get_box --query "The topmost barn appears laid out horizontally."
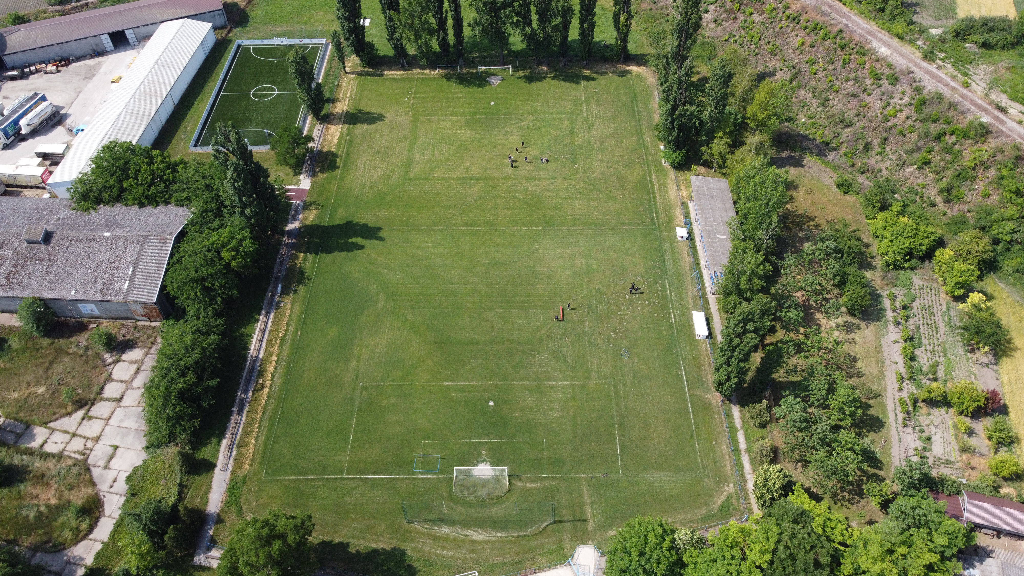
[0,0,229,68]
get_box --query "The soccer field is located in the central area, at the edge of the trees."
[244,70,724,491]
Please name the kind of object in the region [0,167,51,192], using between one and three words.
trailer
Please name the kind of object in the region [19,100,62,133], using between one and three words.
trailer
